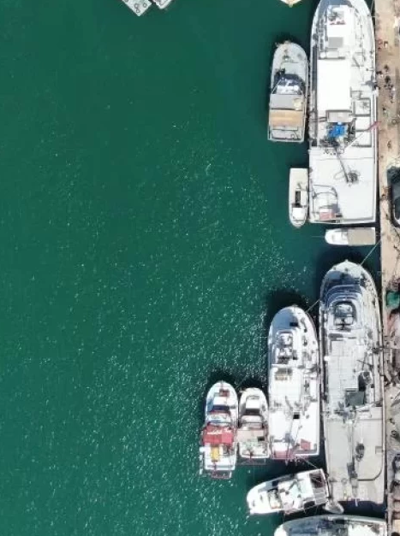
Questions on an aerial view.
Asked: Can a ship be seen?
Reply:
Yes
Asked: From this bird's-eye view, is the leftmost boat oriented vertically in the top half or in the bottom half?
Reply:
bottom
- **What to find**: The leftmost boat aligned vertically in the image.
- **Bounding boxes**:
[200,380,237,478]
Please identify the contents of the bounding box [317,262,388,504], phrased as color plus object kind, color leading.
white ship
